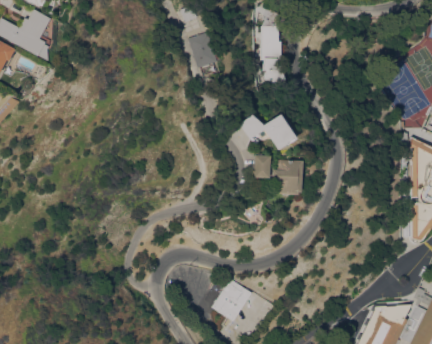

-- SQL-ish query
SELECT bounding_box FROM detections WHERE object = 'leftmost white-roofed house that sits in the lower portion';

[212,280,251,321]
